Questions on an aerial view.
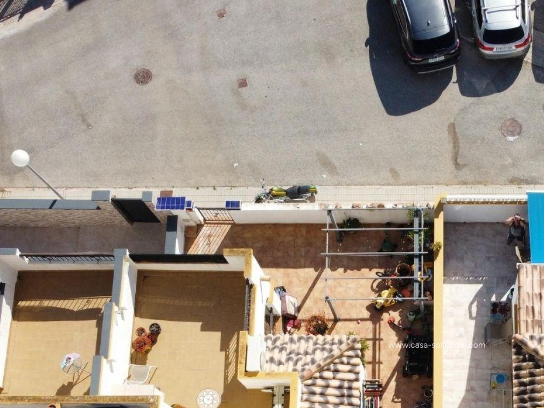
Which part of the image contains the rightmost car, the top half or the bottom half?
top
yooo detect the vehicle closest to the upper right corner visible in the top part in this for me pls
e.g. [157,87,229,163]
[473,0,533,61]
